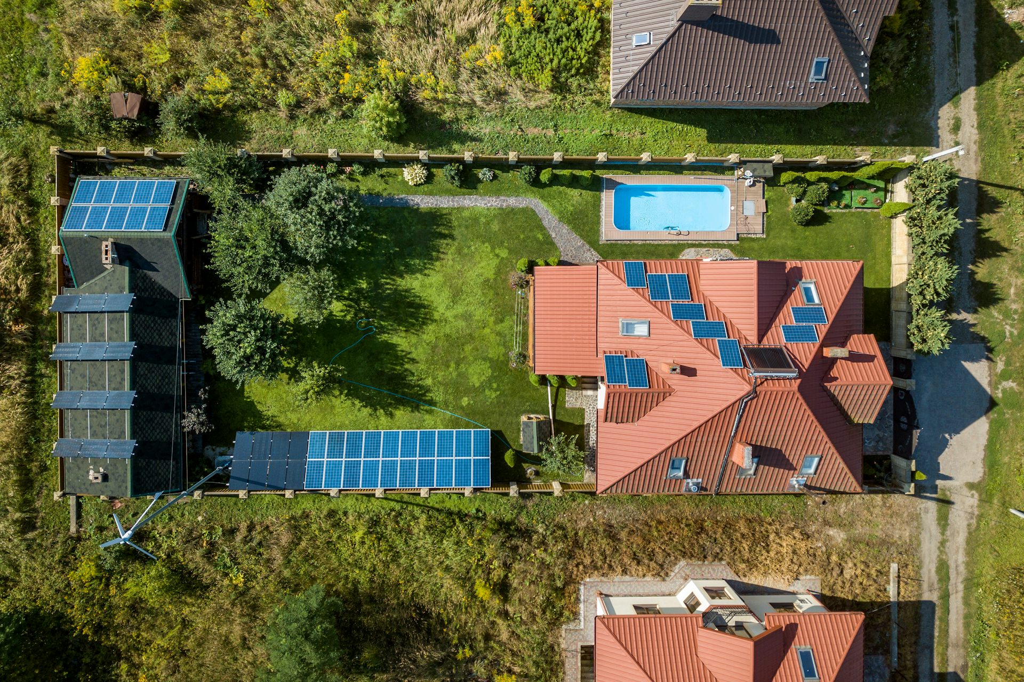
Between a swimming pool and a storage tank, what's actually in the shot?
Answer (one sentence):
This aerial view contains a swimming pool.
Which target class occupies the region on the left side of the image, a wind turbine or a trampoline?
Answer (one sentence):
The one visible on the left side of the image is a wind turbine.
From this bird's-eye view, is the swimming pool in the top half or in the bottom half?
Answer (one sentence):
The swimming pool is in the top half of the image.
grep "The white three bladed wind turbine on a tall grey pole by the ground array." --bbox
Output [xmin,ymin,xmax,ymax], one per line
[88,461,233,555]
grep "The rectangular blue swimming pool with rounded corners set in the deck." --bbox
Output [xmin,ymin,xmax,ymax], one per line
[612,183,732,232]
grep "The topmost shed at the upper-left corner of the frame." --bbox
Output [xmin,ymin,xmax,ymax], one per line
[110,93,151,123]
